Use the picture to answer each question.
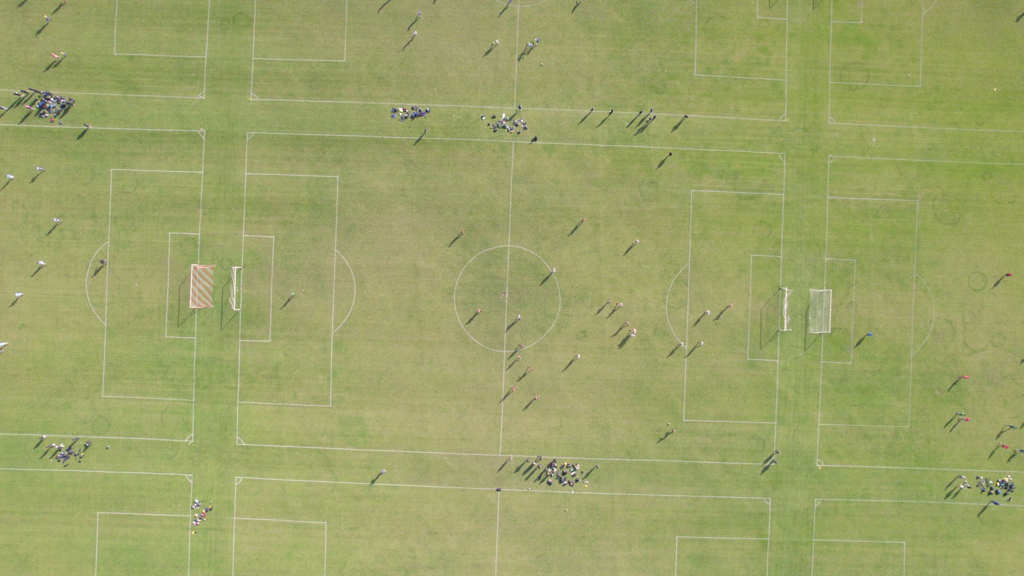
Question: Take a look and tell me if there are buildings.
No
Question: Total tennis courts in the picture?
zero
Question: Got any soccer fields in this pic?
Yes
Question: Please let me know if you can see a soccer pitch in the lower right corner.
Yes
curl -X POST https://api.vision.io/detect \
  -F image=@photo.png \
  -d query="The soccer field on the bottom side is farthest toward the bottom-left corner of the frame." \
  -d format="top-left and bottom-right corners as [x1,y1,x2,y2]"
[0,468,193,576]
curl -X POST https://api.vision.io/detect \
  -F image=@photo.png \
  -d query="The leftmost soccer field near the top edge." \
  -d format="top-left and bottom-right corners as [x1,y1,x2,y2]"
[0,0,209,98]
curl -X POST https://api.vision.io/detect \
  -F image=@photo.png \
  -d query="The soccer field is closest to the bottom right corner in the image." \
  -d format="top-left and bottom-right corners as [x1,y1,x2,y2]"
[812,499,1024,576]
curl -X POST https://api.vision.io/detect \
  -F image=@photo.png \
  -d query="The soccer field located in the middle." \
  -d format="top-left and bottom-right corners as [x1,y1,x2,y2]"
[236,132,785,464]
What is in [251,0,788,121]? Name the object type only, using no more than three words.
soccer field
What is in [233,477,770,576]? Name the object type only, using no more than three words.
soccer field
